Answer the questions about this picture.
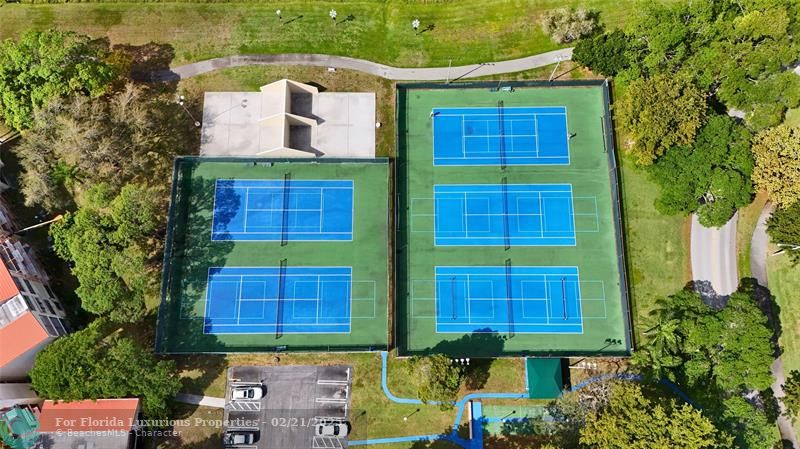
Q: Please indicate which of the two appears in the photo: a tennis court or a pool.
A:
tennis court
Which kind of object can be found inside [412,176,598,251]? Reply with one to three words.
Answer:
tennis court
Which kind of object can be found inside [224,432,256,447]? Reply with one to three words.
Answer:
car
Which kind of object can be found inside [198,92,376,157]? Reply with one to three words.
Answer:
sports court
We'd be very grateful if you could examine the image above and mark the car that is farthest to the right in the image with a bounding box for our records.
[316,422,348,438]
